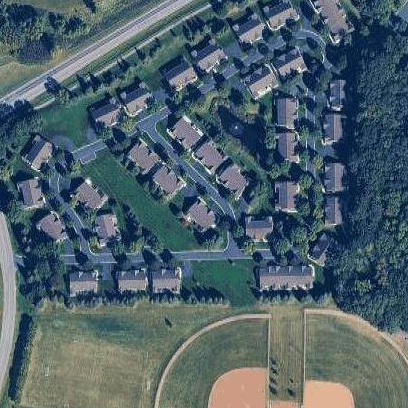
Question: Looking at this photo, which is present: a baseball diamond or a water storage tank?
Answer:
baseball diamond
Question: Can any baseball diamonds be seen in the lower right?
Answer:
Yes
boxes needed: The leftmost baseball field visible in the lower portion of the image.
[153,313,270,408]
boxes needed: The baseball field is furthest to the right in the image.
[304,308,408,408]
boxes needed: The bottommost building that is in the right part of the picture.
[260,266,315,291]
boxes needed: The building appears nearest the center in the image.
[186,197,218,228]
